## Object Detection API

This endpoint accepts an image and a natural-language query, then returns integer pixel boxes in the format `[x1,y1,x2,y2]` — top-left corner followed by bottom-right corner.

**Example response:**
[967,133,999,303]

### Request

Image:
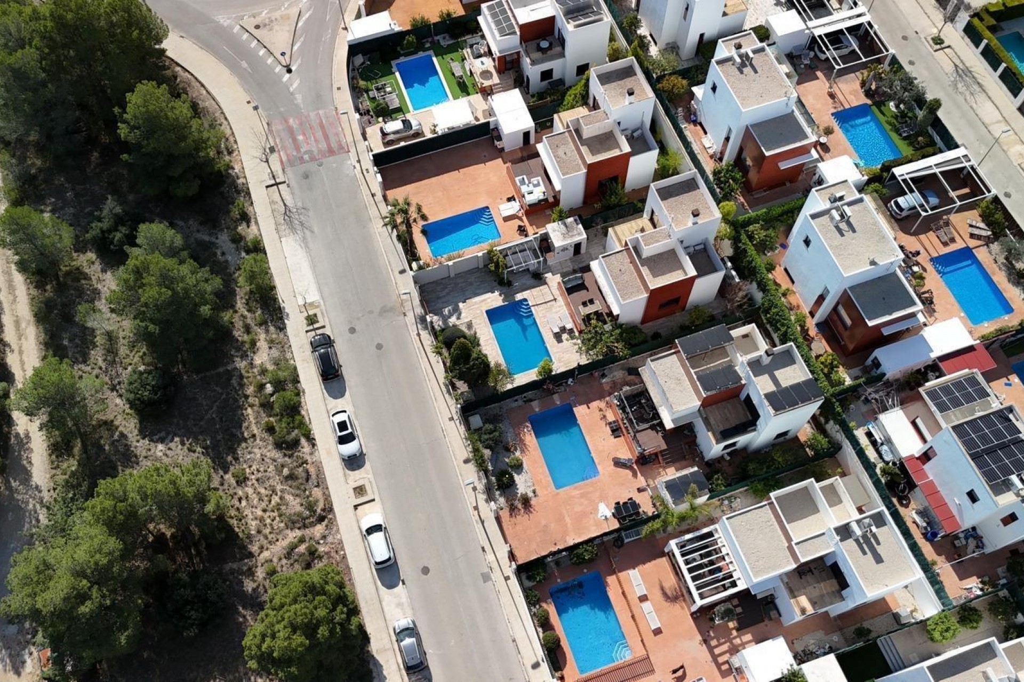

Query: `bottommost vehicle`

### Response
[392,615,428,676]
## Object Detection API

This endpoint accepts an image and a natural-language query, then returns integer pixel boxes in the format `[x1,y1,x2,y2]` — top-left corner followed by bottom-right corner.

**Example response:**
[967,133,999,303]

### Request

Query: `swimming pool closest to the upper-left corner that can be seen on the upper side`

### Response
[390,47,457,115]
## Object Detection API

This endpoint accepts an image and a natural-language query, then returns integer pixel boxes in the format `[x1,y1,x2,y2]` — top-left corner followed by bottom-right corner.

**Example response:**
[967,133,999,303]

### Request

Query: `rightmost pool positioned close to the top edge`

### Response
[994,27,1024,75]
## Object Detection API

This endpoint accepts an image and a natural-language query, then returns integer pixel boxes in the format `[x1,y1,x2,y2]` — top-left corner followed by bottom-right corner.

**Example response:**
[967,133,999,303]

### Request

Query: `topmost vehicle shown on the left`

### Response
[383,118,425,145]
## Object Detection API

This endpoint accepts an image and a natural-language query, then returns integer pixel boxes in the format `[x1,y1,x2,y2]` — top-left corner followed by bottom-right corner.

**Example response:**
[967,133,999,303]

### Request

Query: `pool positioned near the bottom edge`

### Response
[548,569,635,677]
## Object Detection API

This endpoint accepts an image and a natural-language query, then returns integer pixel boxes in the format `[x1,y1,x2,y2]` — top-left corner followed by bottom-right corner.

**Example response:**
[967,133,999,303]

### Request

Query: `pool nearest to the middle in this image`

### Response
[483,295,556,378]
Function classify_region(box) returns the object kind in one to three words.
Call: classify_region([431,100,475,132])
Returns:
gazebo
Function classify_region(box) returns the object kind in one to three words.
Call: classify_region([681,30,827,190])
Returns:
house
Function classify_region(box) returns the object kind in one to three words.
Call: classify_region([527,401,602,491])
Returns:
swimming pool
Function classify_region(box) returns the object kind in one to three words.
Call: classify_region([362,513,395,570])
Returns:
car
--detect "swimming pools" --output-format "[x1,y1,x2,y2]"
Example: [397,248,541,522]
[483,295,556,378]
[929,244,1015,327]
[548,569,635,677]
[421,204,502,258]
[831,101,904,167]
[527,401,602,491]
[994,27,1024,75]
[390,47,457,115]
